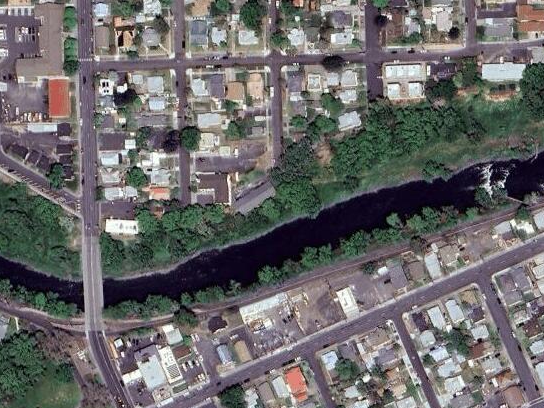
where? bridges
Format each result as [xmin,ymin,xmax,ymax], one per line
[81,237,106,337]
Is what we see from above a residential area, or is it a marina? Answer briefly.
residential area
